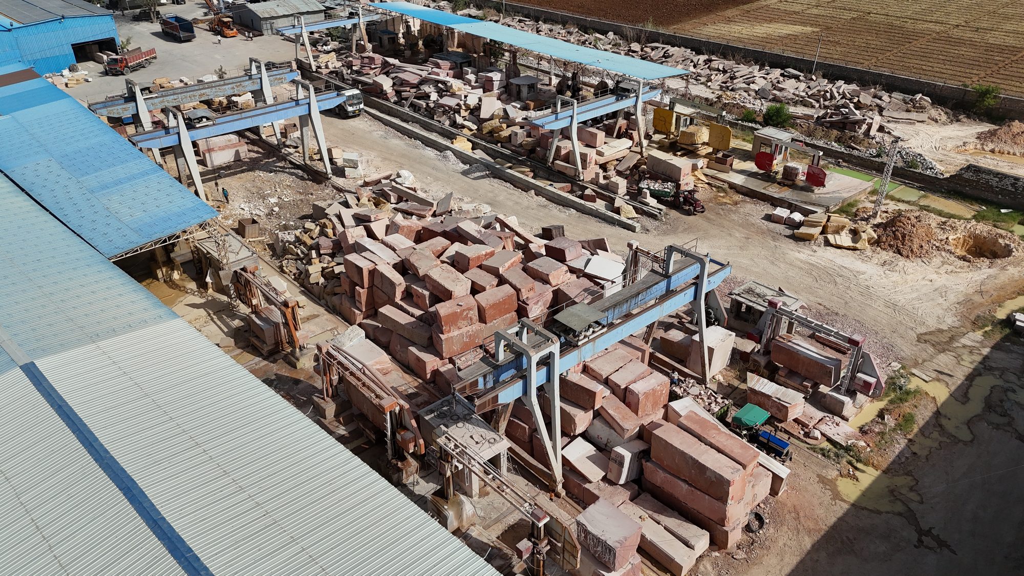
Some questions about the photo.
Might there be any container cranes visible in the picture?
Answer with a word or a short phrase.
Yes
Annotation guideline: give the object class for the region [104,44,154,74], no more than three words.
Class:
truck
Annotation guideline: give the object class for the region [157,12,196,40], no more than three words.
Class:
truck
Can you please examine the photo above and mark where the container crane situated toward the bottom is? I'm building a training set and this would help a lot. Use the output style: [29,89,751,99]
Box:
[436,227,732,484]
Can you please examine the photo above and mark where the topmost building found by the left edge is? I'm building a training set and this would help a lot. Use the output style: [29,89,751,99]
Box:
[0,1,120,75]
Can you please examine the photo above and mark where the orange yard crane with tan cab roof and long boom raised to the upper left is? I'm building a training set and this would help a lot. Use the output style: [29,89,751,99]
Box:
[181,0,238,36]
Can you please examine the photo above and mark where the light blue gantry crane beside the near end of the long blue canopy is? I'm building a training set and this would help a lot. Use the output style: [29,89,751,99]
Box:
[523,73,662,179]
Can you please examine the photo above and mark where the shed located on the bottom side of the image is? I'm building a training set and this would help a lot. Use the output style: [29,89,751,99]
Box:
[0,168,503,576]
